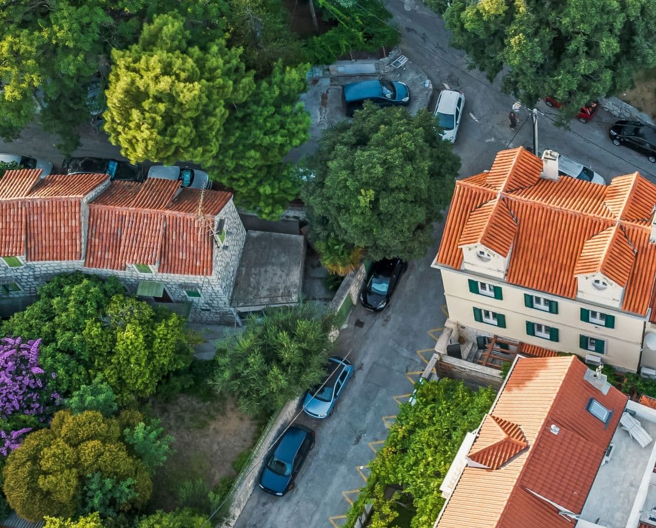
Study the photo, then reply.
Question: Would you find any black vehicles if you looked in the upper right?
Yes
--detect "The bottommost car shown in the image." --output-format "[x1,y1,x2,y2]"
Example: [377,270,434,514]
[264,415,319,498]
